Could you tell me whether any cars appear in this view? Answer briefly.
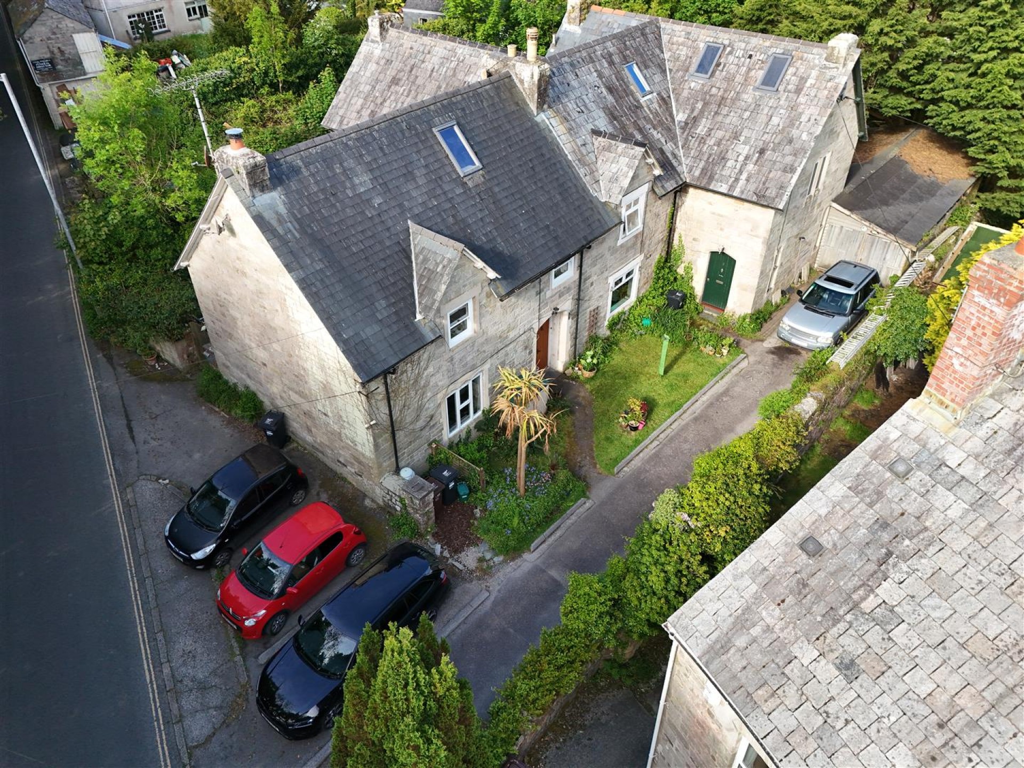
Yes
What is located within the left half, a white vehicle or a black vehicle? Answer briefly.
black vehicle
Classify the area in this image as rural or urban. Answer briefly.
urban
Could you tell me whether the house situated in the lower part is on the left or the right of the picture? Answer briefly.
right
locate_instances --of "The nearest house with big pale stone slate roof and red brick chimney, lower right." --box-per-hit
[643,252,1024,768]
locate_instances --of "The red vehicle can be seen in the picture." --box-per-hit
[211,495,367,638]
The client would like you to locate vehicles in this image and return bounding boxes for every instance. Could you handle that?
[211,495,367,638]
[159,436,307,567]
[256,542,453,738]
[781,250,886,353]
